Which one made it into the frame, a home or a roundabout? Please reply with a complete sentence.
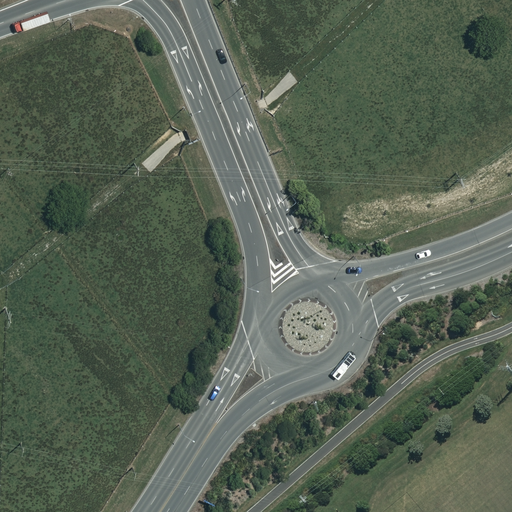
Looking from above, you can make out a roundabout.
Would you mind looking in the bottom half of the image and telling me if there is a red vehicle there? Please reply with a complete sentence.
No, there's no red vehicle to be seen in the bottom half of the image.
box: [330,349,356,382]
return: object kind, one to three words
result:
bus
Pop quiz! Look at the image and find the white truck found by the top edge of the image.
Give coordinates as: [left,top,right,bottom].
[10,12,52,34]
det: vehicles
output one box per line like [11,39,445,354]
[10,12,52,34]
[415,249,430,259]
[330,349,356,382]
[208,386,219,400]
[216,48,226,64]
[346,266,362,274]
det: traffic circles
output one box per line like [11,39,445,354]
[259,278,357,376]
